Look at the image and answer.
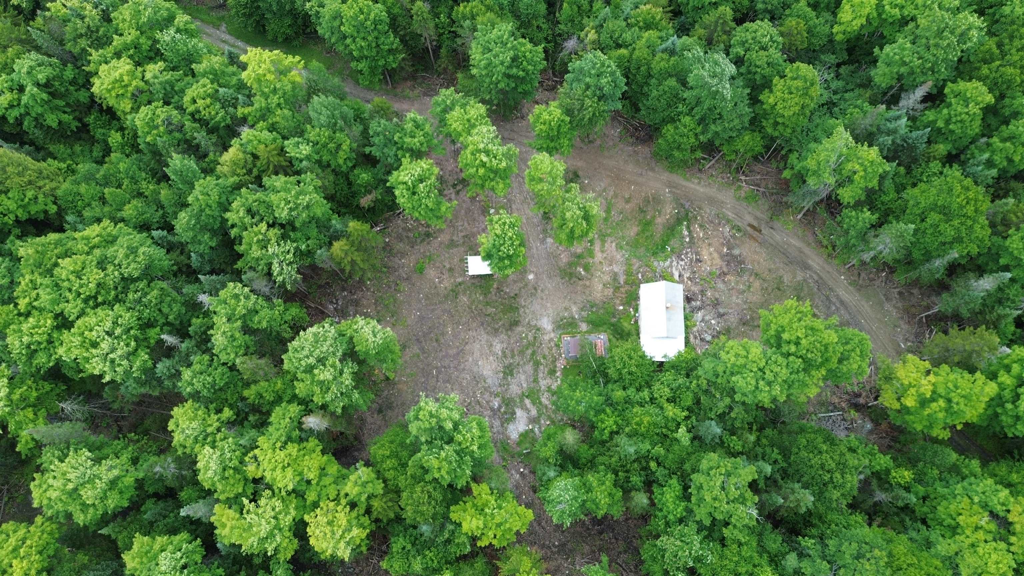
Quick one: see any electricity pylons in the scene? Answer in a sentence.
No, no electricity pylon can be seen from above.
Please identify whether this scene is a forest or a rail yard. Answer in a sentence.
This looks like a forest.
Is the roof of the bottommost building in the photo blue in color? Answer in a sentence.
No, the roof of the bottommost building is white.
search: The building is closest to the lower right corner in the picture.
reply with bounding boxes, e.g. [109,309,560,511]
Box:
[638,281,685,363]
